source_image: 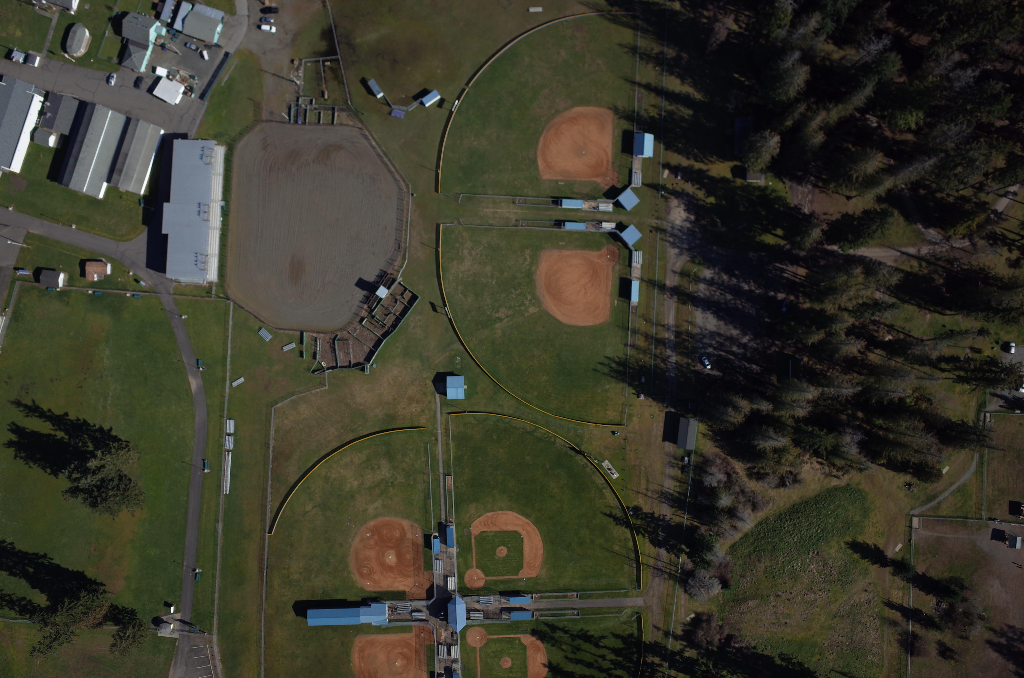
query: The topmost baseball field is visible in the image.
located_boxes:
[440,14,640,201]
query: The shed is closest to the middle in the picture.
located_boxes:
[447,376,465,399]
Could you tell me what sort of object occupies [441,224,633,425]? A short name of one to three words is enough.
baseball field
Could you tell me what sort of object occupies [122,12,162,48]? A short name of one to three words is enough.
house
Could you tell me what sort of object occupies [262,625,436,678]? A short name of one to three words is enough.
baseball field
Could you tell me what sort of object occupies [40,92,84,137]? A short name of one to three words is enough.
barn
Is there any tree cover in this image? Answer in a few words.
Yes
